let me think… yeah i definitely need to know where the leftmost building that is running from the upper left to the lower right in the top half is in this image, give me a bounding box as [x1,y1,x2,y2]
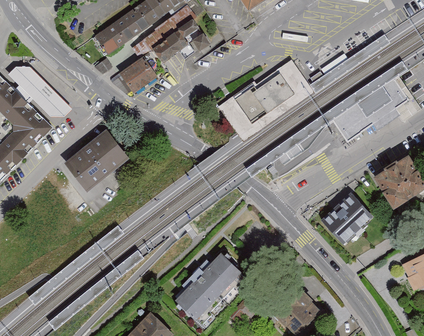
[10,66,72,116]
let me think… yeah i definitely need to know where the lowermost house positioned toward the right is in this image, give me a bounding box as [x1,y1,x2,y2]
[282,291,320,334]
